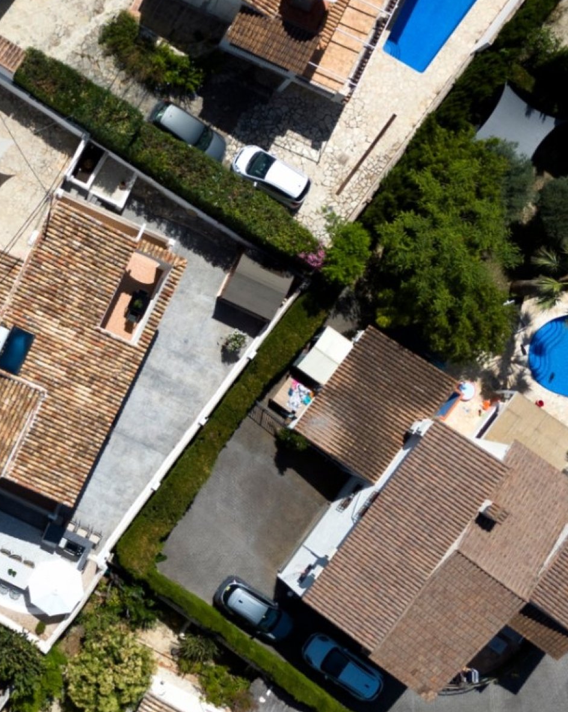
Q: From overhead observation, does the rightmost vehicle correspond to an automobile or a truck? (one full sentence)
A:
I'd say the rightmost vehicle is an automobile.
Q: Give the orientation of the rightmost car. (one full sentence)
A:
In this picture, the rightmost car lies diagonally.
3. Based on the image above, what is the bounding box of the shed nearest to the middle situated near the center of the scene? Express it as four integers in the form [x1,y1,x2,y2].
[214,250,293,320]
